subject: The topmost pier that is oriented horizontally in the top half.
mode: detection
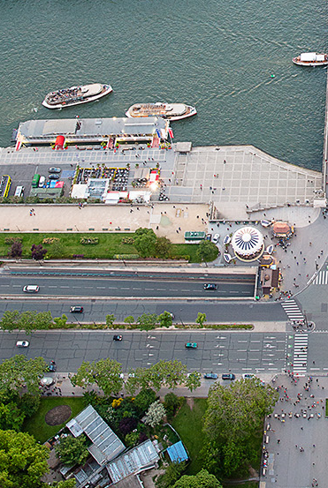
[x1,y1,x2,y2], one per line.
[19,126,170,141]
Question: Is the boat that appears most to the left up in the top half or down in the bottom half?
top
